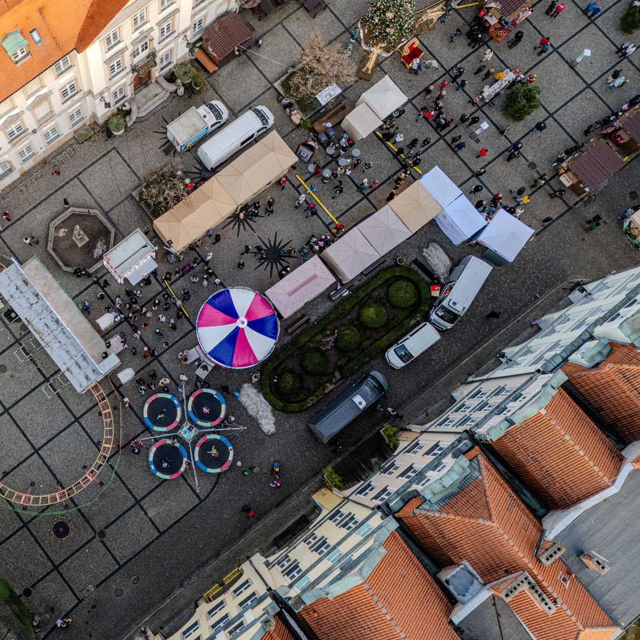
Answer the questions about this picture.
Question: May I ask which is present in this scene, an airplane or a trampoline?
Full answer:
Visible in the photo is a trampoline.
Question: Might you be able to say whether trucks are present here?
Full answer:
Yes, the photo shows a truck.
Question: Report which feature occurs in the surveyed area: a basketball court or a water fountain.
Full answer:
Of the two, only a water fountain appears.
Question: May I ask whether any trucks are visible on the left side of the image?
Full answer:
Yes, a truck can be seen on the left side of the image.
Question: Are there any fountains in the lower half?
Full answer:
No, there's no fountain to be seen in the lower half.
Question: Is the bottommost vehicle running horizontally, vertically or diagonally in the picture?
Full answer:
What the image shows is the bottommost vehicle lying diagonally.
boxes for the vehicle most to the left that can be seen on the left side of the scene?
[161,97,233,158]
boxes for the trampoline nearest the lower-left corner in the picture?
[149,439,187,479]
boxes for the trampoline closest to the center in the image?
[187,388,225,427]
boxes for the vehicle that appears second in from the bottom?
[383,322,446,372]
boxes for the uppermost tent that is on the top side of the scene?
[359,75,408,122]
